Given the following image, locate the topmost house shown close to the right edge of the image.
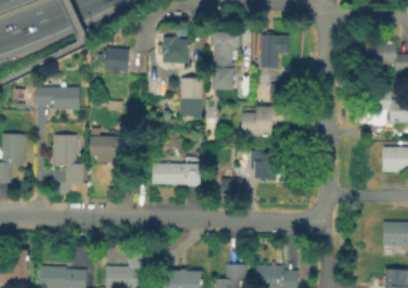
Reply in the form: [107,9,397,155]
[378,42,408,74]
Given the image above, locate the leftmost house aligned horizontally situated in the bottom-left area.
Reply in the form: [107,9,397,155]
[40,266,86,288]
